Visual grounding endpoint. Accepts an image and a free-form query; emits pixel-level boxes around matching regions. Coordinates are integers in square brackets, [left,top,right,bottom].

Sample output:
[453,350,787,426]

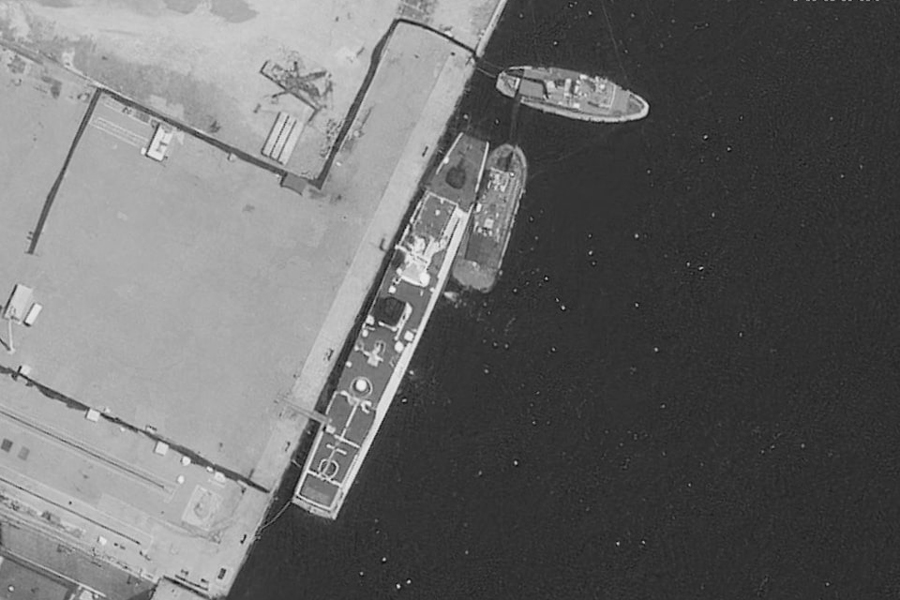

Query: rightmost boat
[496,65,650,124]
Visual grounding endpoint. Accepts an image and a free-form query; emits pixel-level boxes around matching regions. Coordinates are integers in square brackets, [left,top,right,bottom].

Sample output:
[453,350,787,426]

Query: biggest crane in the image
[237,59,337,122]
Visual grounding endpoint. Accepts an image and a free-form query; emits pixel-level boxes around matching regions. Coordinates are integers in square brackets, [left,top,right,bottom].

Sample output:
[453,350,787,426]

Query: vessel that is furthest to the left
[294,133,490,518]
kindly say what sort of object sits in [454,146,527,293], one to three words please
boat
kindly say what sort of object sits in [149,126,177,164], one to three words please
building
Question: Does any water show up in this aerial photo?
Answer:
Yes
